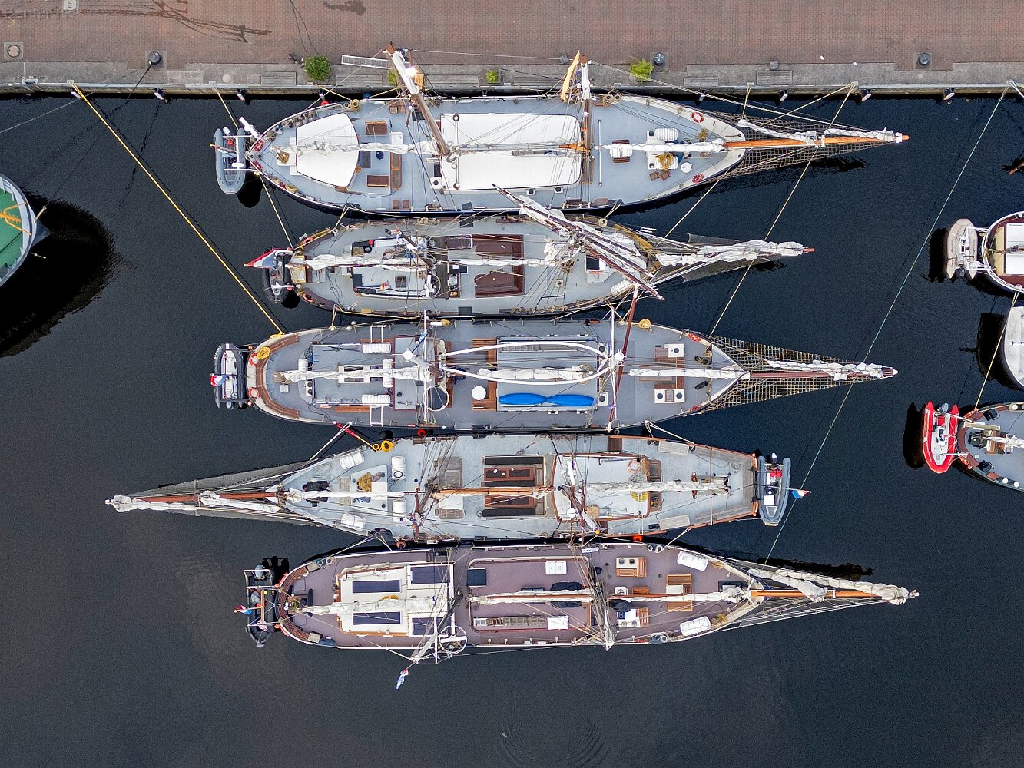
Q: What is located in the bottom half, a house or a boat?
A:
boat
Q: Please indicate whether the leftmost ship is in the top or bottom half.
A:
top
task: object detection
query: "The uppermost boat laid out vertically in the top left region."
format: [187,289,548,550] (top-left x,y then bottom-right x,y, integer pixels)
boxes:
[214,126,248,193]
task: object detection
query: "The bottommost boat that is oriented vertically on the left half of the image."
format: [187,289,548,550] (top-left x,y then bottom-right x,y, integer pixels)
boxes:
[246,573,275,644]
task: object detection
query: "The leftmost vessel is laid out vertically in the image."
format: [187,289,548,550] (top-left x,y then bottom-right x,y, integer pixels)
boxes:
[0,173,50,292]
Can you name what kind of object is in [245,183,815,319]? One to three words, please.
ship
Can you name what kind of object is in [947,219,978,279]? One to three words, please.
boat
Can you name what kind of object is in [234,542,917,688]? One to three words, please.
ship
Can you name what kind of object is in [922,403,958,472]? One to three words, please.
boat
